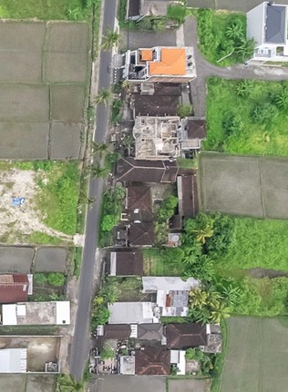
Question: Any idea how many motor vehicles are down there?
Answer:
0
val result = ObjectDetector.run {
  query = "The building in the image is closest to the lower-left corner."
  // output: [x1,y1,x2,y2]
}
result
[0,349,26,373]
